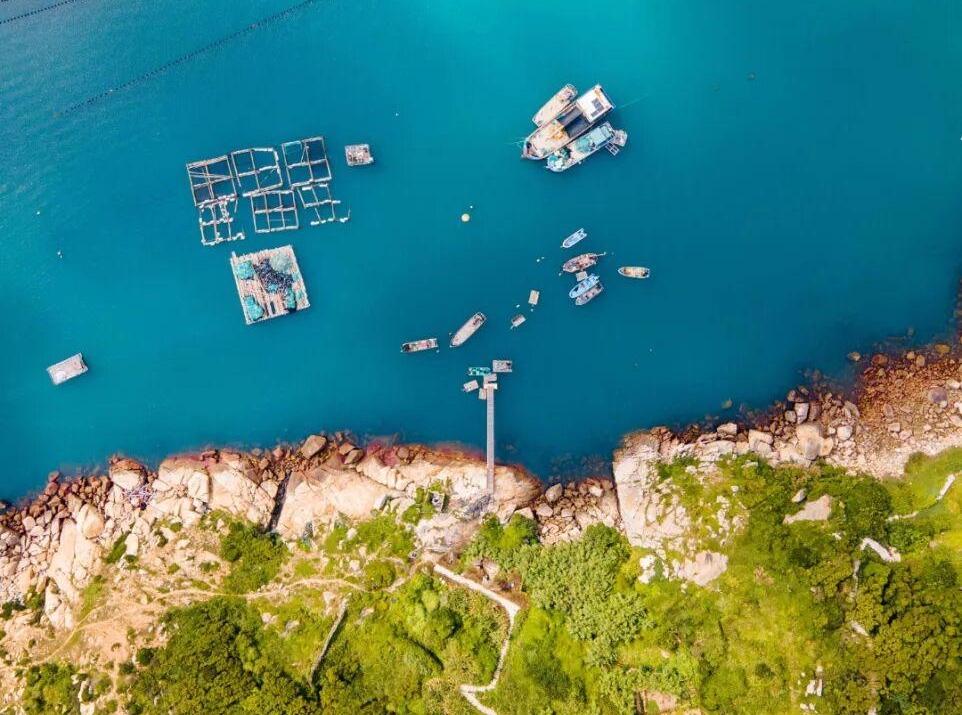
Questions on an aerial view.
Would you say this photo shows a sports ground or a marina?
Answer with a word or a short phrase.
marina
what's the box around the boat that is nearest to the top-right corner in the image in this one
[615,128,629,148]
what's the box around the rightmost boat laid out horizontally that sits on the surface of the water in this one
[618,266,652,278]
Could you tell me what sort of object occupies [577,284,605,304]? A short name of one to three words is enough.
boat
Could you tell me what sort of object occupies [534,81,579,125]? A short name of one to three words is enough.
boat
